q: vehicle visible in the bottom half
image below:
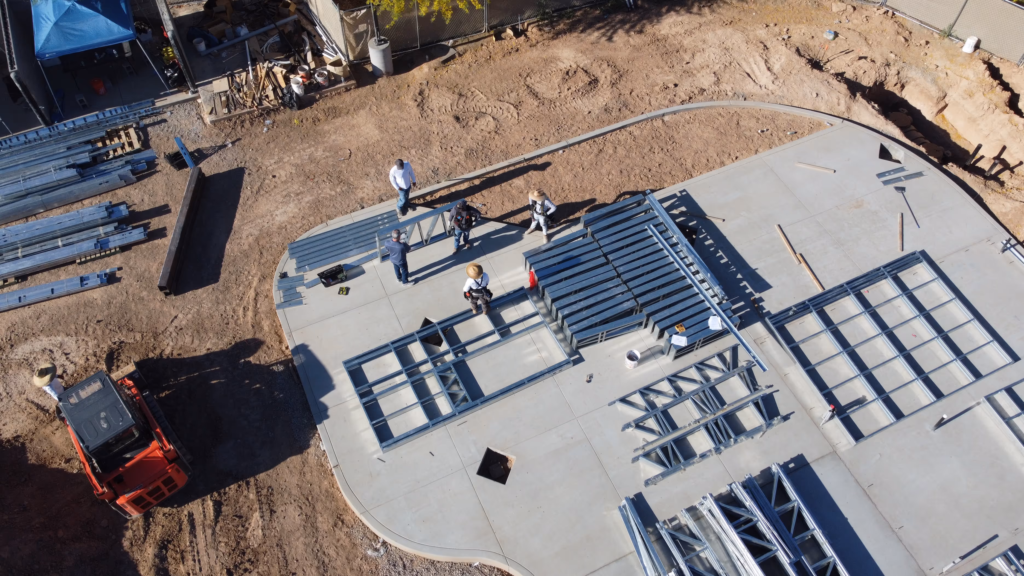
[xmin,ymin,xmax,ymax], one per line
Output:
[59,374,206,525]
